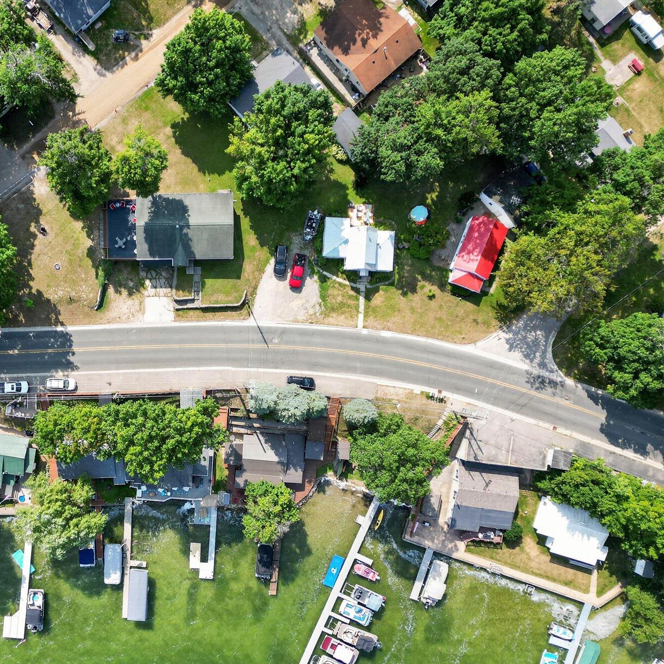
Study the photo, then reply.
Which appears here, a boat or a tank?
boat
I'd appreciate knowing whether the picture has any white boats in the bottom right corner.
Yes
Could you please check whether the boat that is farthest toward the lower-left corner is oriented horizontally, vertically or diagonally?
vertically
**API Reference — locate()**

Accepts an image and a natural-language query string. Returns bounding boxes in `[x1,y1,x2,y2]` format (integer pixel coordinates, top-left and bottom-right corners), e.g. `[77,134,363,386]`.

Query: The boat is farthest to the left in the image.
[25,589,44,635]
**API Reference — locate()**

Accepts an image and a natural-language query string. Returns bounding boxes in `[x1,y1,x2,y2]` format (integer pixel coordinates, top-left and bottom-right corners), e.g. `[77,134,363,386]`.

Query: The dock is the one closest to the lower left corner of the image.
[4,539,33,638]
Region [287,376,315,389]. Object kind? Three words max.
vehicle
